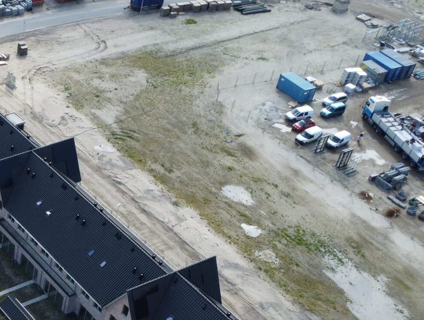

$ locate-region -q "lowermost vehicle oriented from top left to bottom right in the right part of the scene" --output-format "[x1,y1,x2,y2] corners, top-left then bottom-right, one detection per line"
[364,97,424,168]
